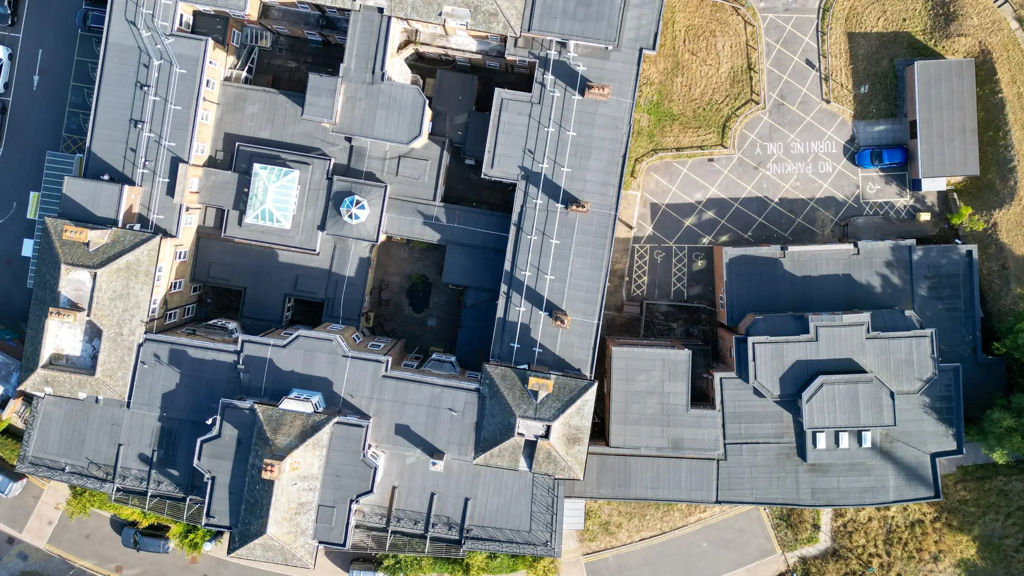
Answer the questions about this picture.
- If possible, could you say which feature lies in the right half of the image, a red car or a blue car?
blue car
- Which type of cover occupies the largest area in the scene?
buildings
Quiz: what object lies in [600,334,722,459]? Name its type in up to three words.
building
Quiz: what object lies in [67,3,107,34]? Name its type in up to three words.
car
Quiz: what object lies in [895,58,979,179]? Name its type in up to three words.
building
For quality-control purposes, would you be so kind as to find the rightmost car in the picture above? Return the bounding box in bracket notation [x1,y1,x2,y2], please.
[852,143,907,171]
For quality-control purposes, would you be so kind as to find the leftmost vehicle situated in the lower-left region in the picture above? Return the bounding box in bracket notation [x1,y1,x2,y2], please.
[0,469,32,500]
